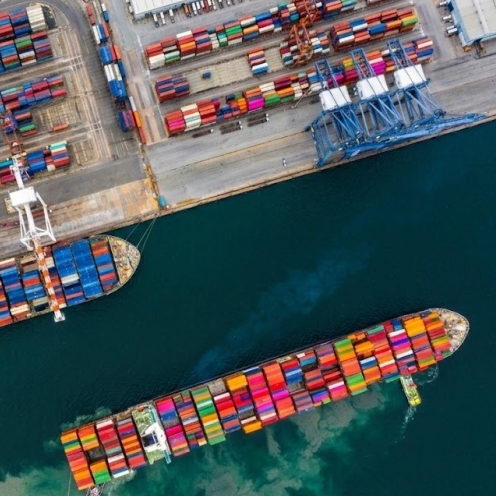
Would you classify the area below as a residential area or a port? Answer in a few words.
port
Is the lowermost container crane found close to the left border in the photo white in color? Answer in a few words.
Yes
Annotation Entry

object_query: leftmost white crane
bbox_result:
[5,158,64,323]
